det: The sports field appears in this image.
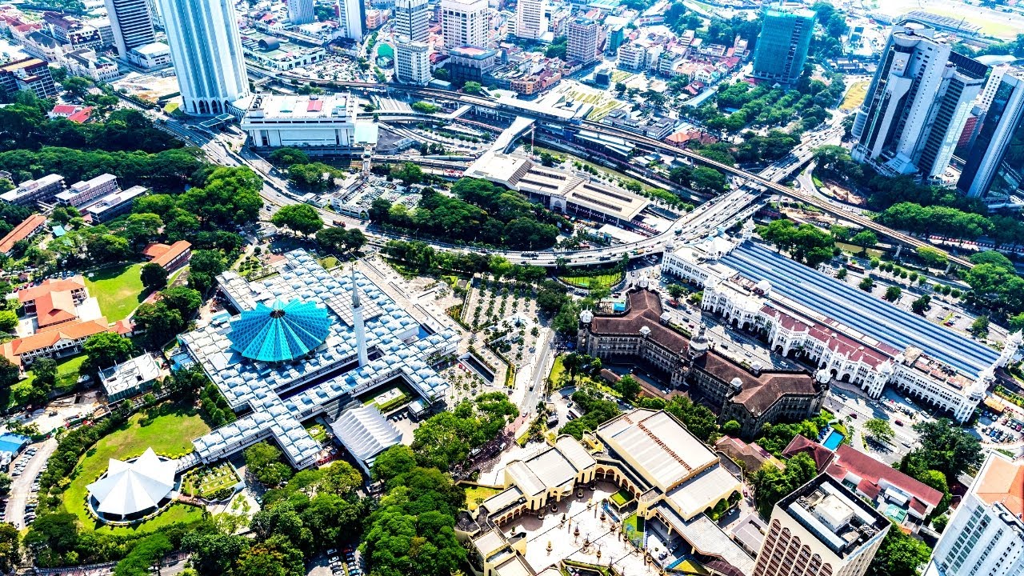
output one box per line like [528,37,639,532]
[887,6,1024,34]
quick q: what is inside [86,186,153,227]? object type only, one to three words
building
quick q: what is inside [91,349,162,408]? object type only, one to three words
building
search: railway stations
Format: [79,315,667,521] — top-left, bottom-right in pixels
[660,212,1024,423]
